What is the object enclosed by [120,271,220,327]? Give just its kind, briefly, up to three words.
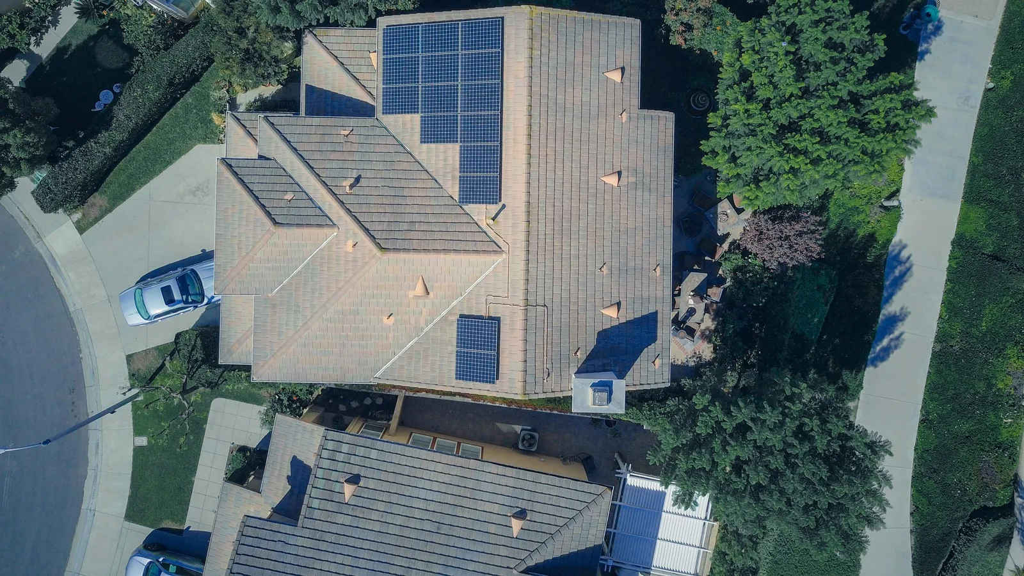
car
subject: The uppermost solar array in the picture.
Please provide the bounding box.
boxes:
[380,21,501,204]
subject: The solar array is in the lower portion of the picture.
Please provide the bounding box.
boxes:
[454,319,496,383]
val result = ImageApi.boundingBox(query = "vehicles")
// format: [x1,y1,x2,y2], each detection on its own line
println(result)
[120,271,220,327]
[121,544,203,576]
